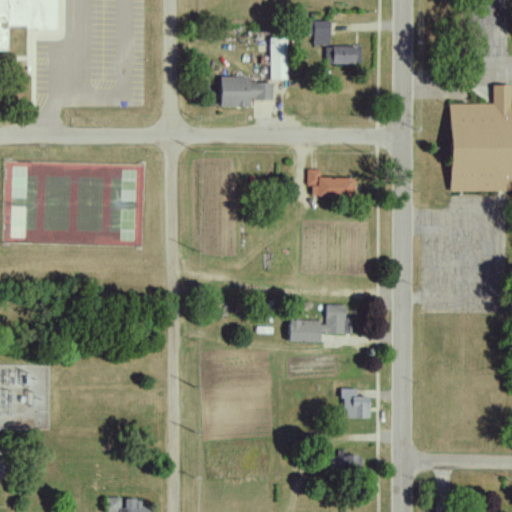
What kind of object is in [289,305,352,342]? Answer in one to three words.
house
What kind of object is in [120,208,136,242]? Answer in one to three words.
sports court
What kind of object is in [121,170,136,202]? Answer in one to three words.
sports court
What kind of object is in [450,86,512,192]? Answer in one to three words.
building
